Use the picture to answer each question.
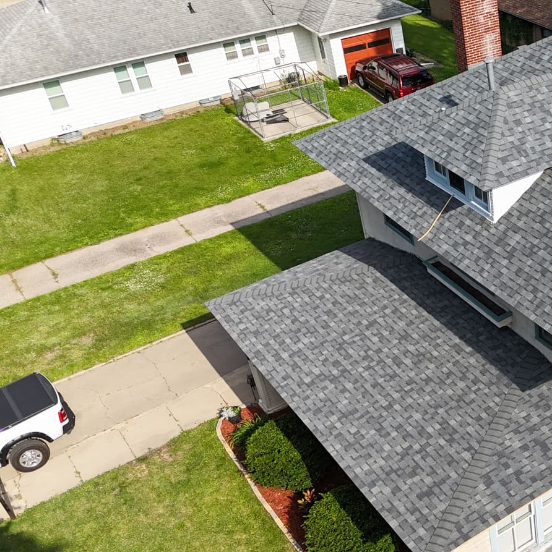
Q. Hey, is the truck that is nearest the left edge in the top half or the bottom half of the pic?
bottom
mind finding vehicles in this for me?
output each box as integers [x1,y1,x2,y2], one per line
[349,55,437,103]
[0,368,88,470]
